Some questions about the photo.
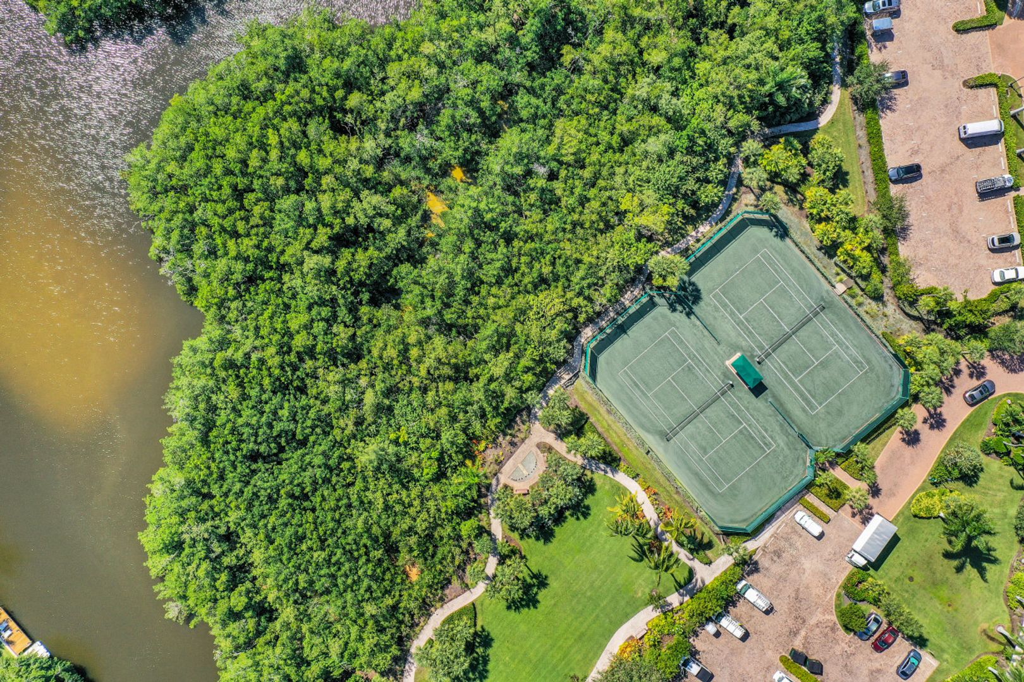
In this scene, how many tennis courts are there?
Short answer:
2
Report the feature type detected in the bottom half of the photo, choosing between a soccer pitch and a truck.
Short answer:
truck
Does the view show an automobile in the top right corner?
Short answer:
Yes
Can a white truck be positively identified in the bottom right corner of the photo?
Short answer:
Yes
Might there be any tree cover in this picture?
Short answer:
Yes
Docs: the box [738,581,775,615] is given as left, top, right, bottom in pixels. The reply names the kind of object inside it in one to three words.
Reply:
van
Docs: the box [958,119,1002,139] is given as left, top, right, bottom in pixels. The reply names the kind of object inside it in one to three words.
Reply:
vehicle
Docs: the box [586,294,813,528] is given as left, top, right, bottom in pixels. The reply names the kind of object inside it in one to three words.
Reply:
tennis court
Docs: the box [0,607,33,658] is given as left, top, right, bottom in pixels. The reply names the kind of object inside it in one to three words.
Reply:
pier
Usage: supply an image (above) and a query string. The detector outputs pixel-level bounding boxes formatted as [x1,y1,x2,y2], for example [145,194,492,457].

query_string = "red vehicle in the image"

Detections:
[871,624,900,654]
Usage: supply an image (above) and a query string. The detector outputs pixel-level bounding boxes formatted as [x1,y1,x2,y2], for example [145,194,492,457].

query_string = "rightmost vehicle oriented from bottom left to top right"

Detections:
[961,379,994,406]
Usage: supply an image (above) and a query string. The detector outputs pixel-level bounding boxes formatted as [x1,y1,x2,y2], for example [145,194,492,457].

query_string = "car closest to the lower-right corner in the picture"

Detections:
[896,649,921,681]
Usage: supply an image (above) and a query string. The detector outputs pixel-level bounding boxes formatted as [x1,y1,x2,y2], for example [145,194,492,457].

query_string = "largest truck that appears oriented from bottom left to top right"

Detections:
[847,510,898,565]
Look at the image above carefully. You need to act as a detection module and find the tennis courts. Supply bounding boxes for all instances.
[586,294,813,528]
[677,212,903,448]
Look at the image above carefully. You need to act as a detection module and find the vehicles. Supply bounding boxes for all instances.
[877,69,910,86]
[958,119,1002,139]
[793,511,824,538]
[866,0,901,16]
[986,234,1019,249]
[714,609,749,644]
[871,624,900,654]
[991,267,1024,282]
[855,611,883,642]
[961,379,994,406]
[869,17,894,34]
[738,581,775,615]
[768,667,795,682]
[896,649,921,681]
[973,175,1013,193]
[705,622,721,636]
[847,510,898,565]
[888,164,922,180]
